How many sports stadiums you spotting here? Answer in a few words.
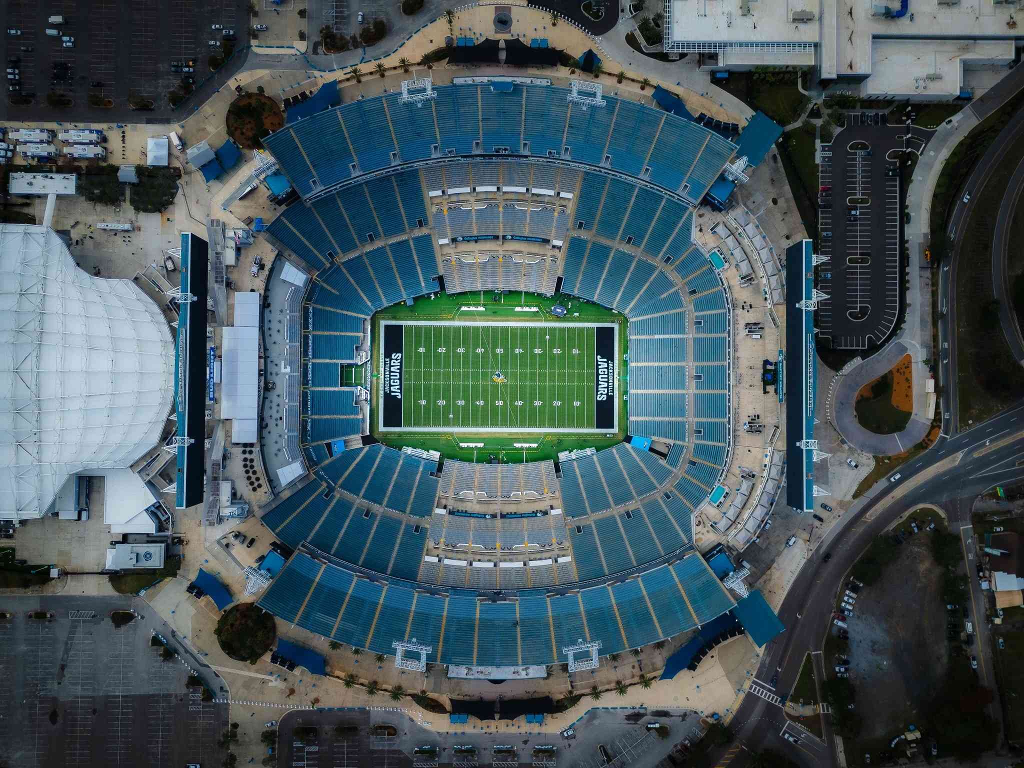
1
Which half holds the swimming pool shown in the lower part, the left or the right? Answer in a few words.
right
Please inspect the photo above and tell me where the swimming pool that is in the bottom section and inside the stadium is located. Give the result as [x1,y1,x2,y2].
[708,483,729,506]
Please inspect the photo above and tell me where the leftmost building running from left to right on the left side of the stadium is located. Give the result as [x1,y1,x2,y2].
[9,173,81,197]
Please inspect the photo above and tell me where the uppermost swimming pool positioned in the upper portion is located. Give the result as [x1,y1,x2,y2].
[709,249,728,272]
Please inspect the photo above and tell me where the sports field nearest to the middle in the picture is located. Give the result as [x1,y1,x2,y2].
[375,292,622,463]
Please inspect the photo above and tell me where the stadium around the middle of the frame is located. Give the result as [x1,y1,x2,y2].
[255,83,787,670]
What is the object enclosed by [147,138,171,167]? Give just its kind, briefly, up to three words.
tent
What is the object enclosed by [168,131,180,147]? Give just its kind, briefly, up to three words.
vehicle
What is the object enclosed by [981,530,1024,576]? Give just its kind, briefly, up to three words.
house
